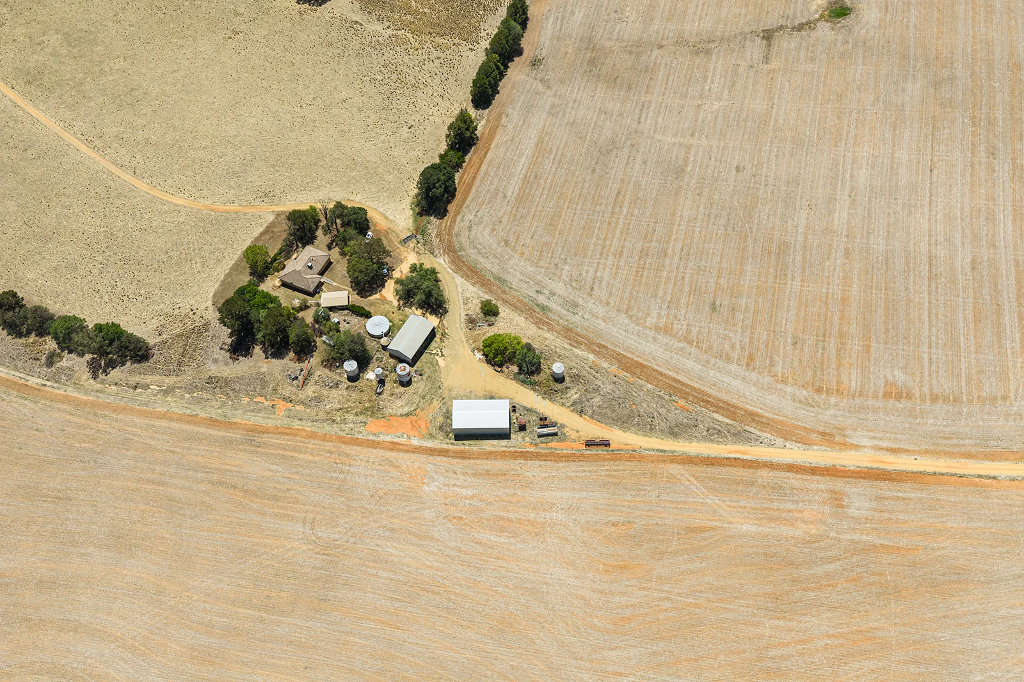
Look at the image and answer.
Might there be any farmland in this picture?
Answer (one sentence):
Yes, there is farmland in the image.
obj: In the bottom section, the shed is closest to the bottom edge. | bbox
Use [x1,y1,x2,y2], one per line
[452,399,509,436]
